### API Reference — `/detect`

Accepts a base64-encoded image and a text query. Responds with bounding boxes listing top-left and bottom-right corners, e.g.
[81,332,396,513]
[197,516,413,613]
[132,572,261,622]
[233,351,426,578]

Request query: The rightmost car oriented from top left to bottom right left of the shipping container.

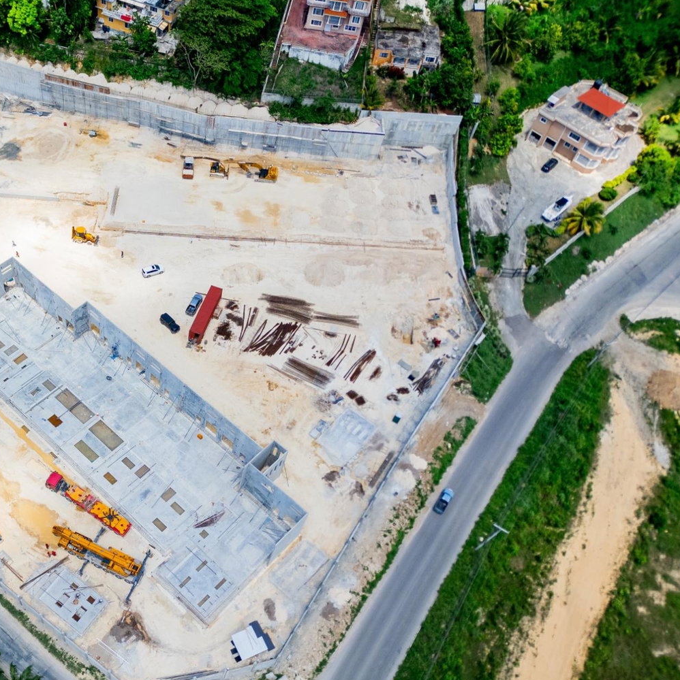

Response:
[159,309,182,332]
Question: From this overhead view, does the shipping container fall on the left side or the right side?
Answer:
left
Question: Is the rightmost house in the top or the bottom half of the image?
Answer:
top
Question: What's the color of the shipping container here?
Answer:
red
